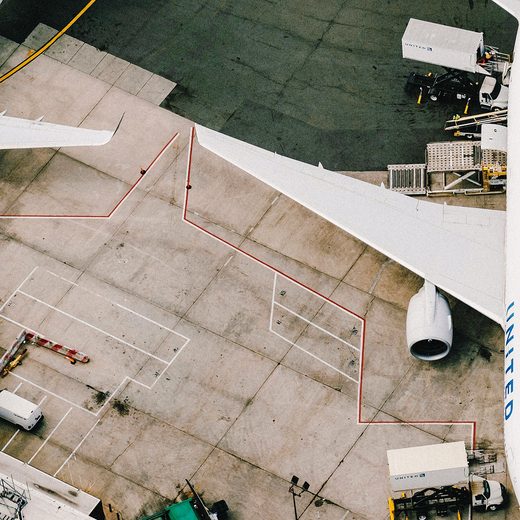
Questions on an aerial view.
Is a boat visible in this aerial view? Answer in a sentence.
No, I find no boat anywhere in the image.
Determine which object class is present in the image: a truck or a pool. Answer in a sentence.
I can see a truck in this picture.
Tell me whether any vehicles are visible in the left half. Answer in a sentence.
Yes, a vehicle is visible in the left half.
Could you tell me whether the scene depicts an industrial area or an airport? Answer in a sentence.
The picture captures an airport.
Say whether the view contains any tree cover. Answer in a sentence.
No, there is no tree cover in the image.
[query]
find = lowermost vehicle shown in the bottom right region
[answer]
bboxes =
[388,444,515,520]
